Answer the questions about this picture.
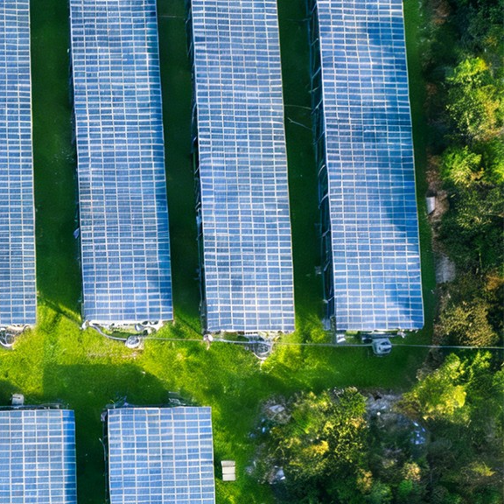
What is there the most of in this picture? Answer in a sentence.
The bulk of the photo consists of buildings.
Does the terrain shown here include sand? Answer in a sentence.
No, there's no sand in this view.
